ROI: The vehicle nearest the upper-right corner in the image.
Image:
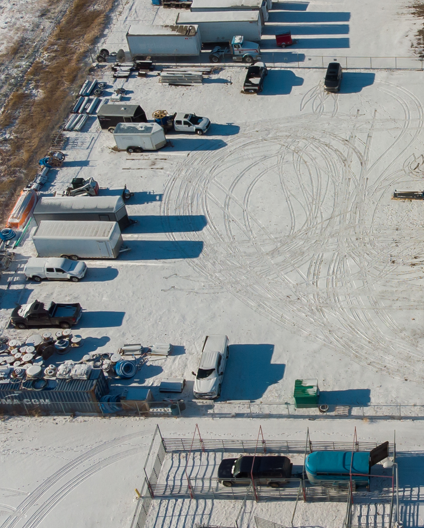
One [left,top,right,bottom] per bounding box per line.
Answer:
[322,60,344,89]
